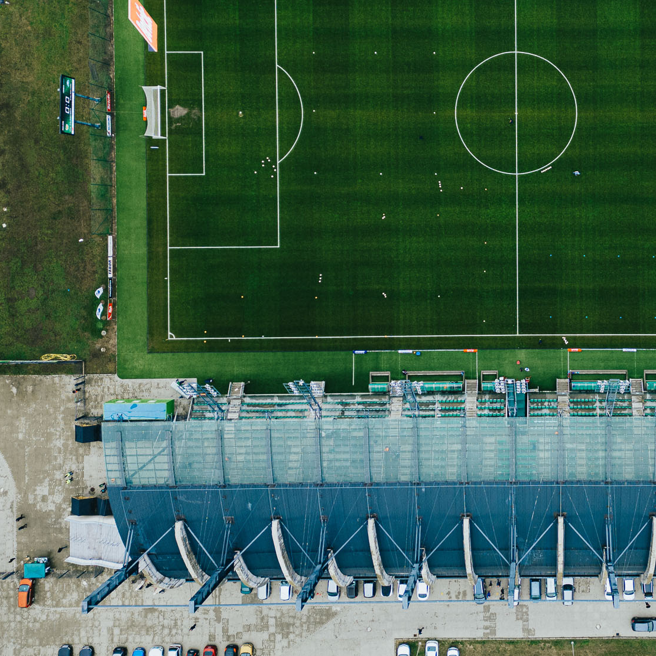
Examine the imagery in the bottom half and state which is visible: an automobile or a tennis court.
automobile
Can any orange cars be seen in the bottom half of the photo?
Yes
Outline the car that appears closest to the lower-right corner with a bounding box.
[632,616,656,633]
